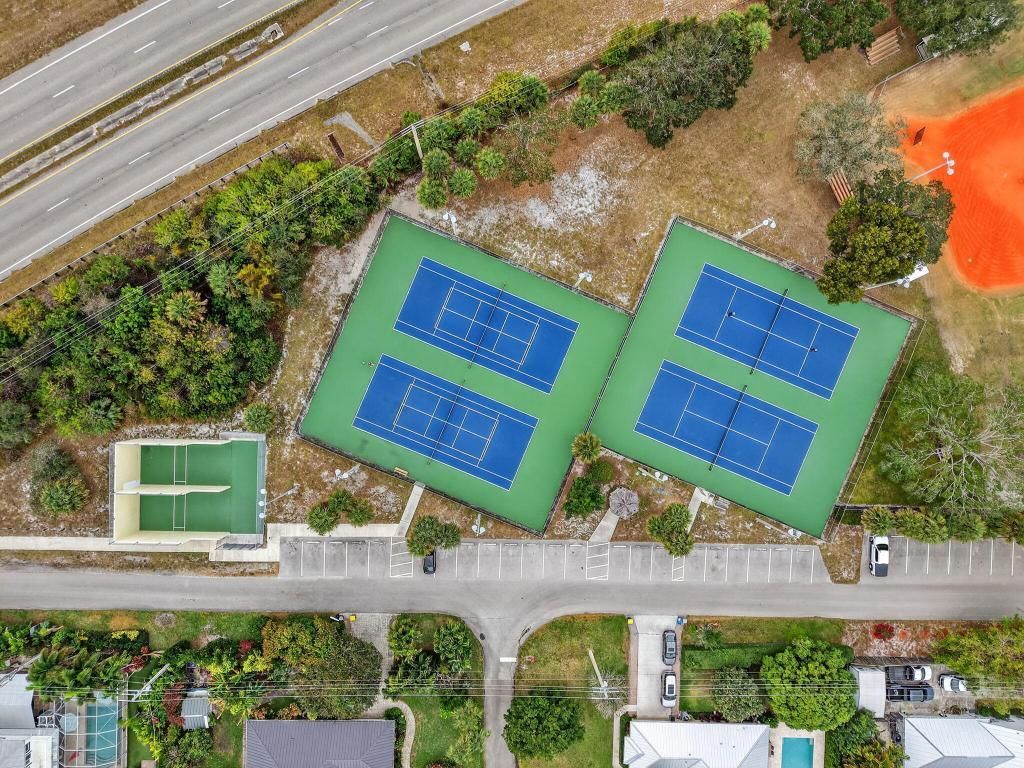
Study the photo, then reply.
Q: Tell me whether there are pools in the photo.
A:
Yes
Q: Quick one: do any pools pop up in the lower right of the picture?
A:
Yes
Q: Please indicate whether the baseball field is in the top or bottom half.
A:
top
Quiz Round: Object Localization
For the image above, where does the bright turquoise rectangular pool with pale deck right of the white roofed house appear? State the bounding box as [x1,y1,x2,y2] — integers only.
[770,722,828,768]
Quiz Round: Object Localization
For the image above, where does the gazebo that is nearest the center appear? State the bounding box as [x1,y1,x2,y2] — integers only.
[608,486,638,516]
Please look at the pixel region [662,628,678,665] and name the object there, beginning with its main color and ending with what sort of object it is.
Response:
gray car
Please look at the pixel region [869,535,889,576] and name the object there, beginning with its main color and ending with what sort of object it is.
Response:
white vehicle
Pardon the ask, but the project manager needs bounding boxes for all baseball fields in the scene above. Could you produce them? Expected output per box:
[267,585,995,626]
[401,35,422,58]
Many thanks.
[887,67,1024,311]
